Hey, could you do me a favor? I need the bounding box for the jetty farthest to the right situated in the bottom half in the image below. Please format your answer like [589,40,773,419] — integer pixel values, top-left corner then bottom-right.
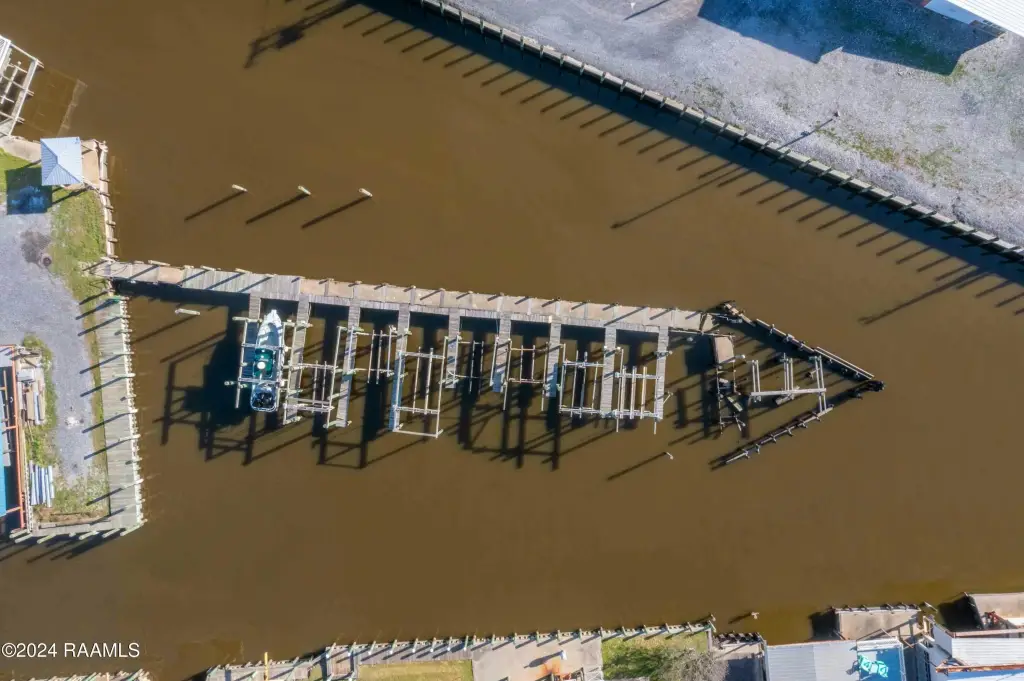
[833,601,937,663]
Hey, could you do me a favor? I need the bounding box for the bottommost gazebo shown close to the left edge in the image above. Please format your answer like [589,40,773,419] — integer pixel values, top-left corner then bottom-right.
[40,137,100,189]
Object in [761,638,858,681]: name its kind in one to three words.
shed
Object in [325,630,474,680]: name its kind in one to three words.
pier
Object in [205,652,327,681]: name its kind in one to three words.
pier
